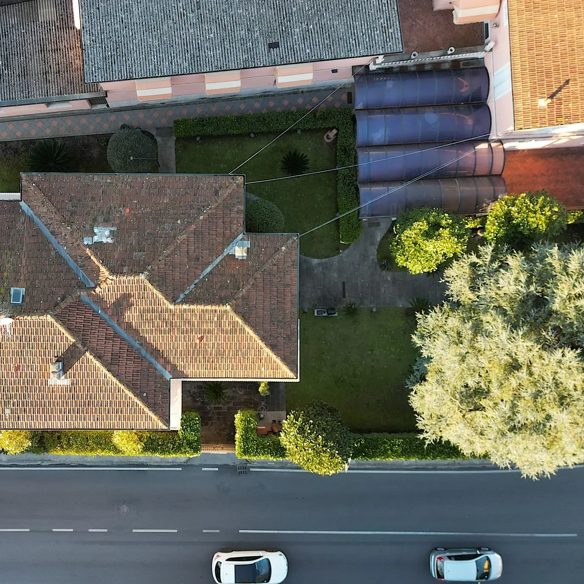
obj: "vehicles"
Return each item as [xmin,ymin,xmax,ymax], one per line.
[213,547,286,584]
[429,545,500,584]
